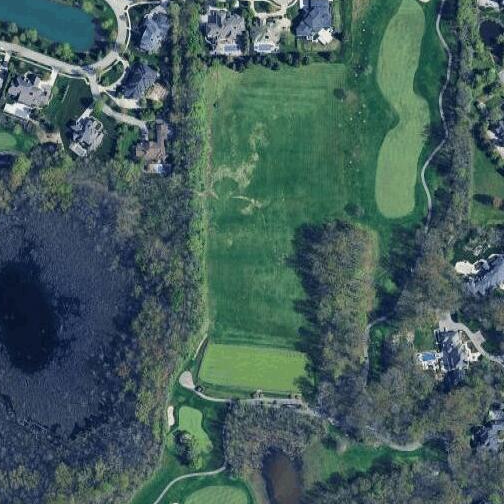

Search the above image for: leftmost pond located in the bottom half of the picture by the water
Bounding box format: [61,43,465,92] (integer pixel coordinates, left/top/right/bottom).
[0,259,61,376]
